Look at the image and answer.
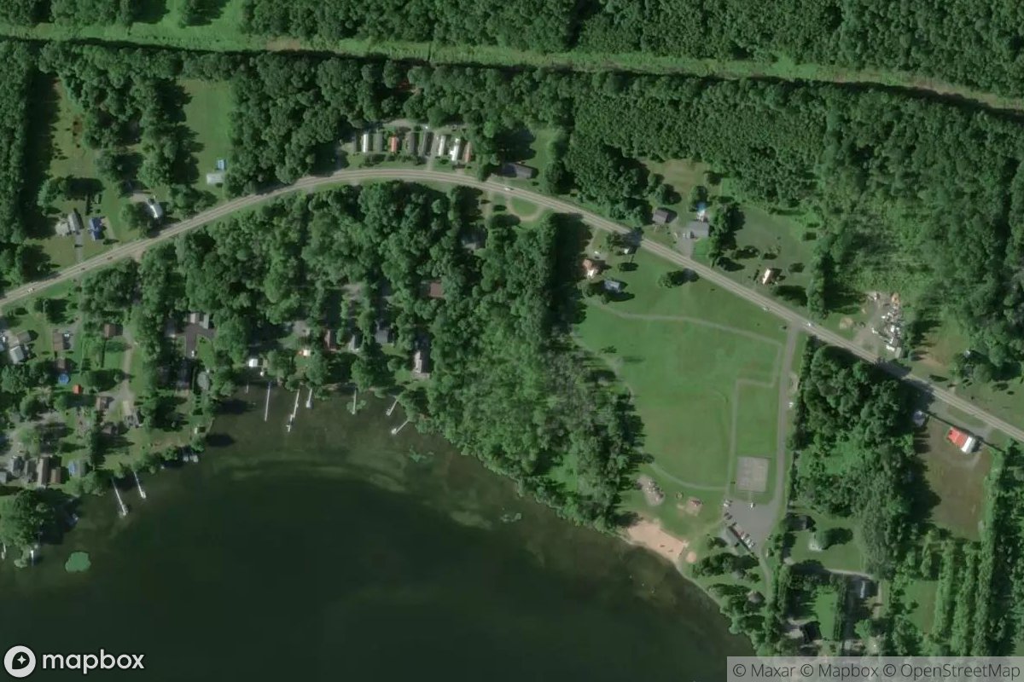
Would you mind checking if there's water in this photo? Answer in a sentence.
Yes, water shows up in the scene.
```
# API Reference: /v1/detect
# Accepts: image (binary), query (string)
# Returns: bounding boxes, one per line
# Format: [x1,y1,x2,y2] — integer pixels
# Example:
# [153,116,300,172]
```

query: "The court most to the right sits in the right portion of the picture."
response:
[737,457,766,492]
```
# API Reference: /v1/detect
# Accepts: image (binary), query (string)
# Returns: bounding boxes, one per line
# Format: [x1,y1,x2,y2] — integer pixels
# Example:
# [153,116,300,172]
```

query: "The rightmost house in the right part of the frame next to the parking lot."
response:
[785,514,808,530]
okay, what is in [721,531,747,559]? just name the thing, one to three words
building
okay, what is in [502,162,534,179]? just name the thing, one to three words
house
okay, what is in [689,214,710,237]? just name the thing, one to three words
house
